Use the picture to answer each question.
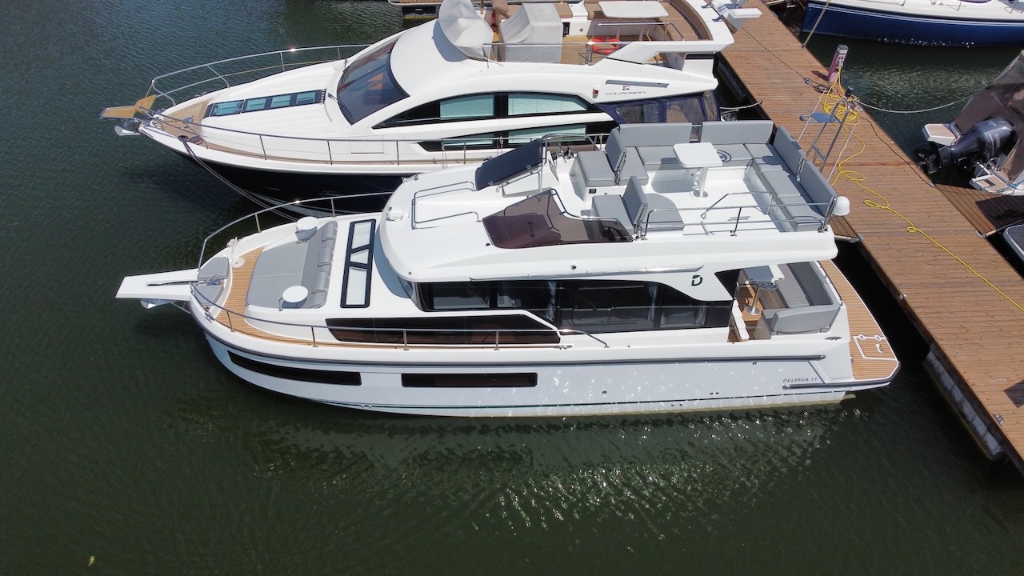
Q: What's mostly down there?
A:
water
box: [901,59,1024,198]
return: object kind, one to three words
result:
boat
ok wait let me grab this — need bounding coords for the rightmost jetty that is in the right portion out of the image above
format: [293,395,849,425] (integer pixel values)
[929,184,1024,242]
